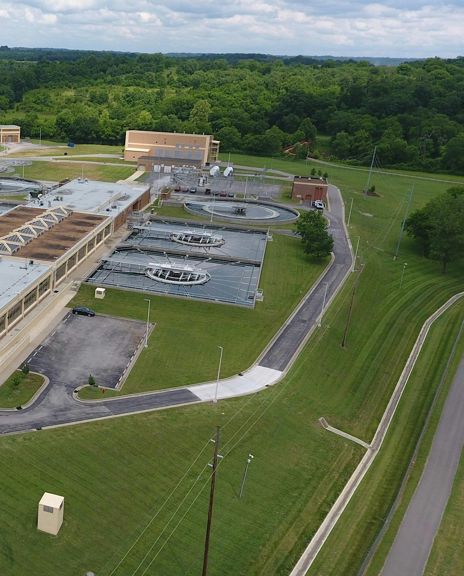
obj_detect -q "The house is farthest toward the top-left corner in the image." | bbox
[0,125,21,143]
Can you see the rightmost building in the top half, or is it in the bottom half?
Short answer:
top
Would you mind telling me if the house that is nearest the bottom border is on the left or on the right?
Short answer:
left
